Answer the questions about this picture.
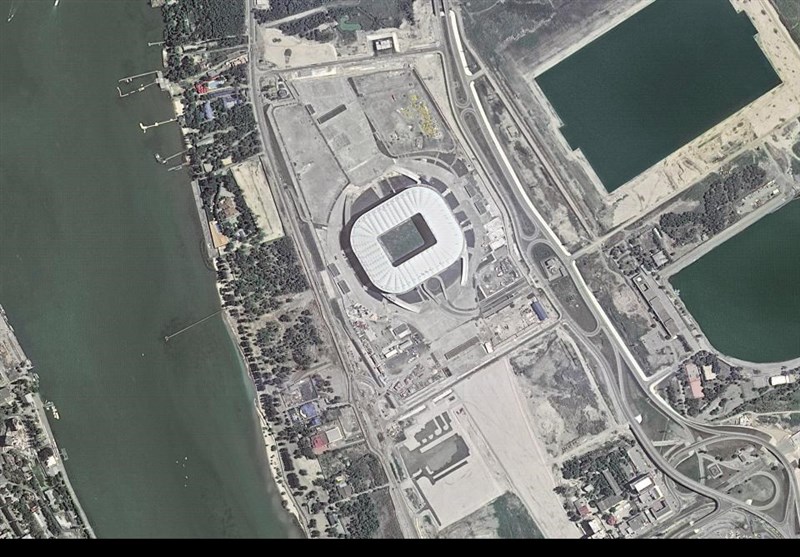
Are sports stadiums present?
Yes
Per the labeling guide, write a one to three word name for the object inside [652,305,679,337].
building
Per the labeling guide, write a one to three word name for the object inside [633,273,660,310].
building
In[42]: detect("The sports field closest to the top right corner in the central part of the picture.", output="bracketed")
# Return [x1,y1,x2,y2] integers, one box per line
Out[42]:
[378,214,436,266]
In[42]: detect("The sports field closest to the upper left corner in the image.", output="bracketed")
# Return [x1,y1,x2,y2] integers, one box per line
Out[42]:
[232,155,284,243]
